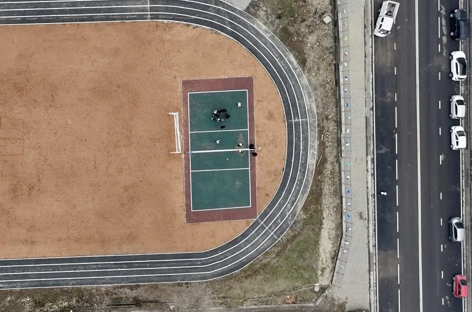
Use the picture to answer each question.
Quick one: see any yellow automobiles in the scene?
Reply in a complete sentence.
No, I can't see a single yellow automobile in this photo.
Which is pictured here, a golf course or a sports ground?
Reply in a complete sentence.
It's a sports ground.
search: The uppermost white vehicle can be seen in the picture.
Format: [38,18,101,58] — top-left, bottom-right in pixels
[377,0,401,37]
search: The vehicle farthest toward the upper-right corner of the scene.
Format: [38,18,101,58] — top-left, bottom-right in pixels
[451,8,470,39]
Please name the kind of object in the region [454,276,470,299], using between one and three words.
car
